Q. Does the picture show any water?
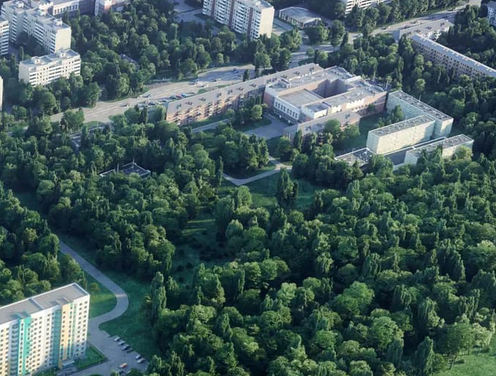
No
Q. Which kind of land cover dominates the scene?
trees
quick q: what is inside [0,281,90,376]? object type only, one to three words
building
